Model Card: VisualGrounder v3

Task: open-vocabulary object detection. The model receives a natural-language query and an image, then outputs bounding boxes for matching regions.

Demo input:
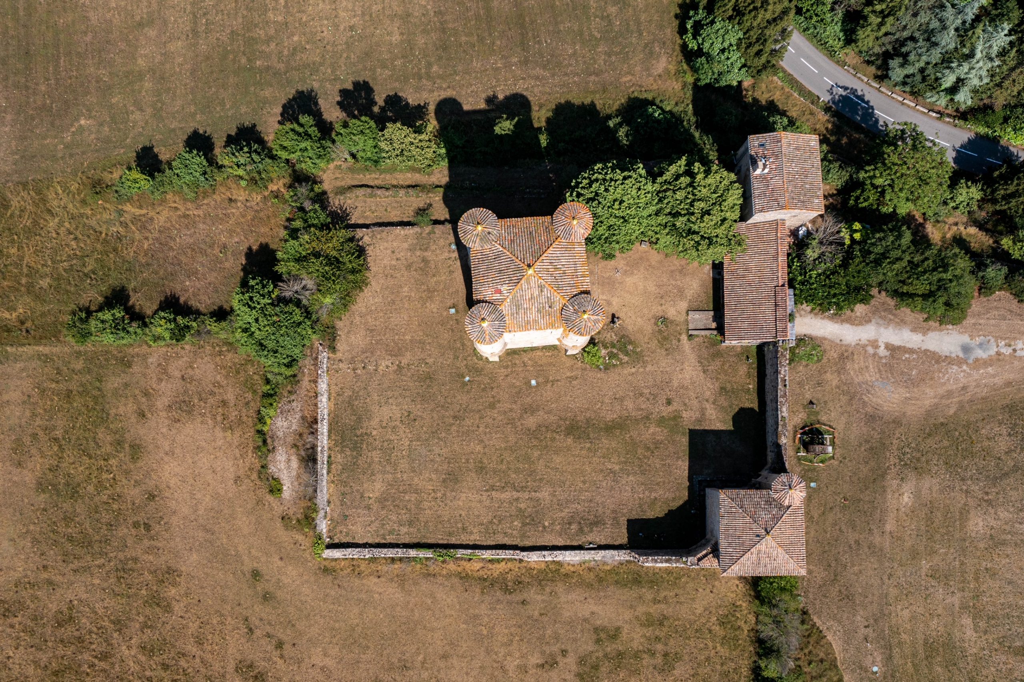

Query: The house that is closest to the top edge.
[734,131,825,228]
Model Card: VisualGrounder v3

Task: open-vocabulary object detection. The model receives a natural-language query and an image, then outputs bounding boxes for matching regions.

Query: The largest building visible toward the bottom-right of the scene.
[708,470,808,577]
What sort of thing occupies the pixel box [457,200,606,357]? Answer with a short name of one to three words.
building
